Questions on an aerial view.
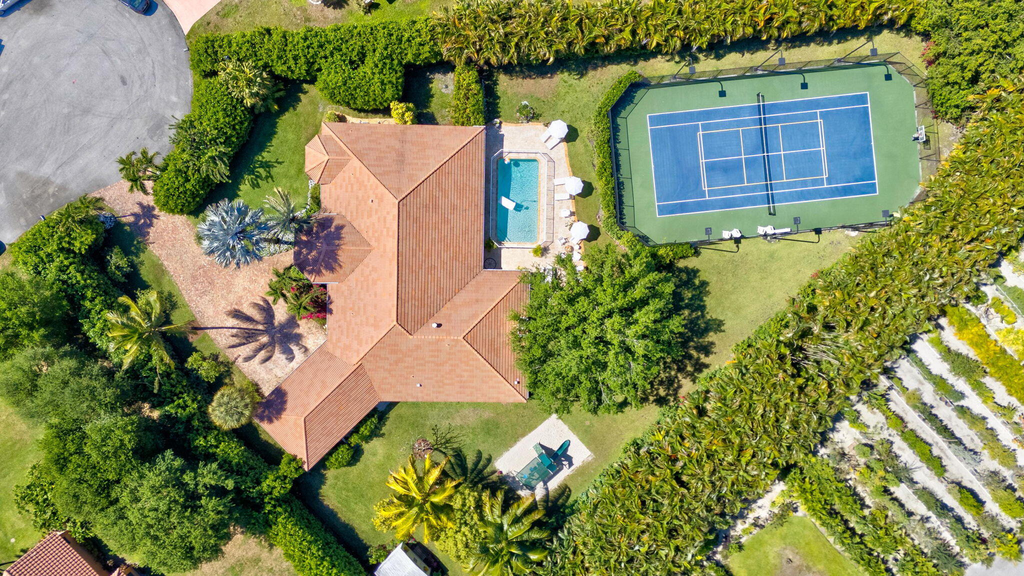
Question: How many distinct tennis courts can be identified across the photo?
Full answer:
In total, 1 tennis court can be seen.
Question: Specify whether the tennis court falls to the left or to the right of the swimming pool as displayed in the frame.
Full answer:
Looking at the photo, the tennis court lies to the right of the swimming pool.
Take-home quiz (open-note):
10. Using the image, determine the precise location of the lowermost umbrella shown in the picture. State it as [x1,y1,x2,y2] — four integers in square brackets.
[570,221,590,241]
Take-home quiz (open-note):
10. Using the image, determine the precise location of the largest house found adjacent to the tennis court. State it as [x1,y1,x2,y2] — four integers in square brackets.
[253,122,530,472]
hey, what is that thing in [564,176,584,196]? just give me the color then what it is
white umbrella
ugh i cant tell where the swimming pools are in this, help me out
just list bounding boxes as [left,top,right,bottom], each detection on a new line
[497,157,539,246]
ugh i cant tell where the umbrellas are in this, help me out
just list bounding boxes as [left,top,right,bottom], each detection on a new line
[564,176,584,196]
[547,120,567,140]
[570,221,590,241]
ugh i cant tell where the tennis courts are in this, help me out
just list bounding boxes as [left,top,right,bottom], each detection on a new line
[606,61,922,248]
